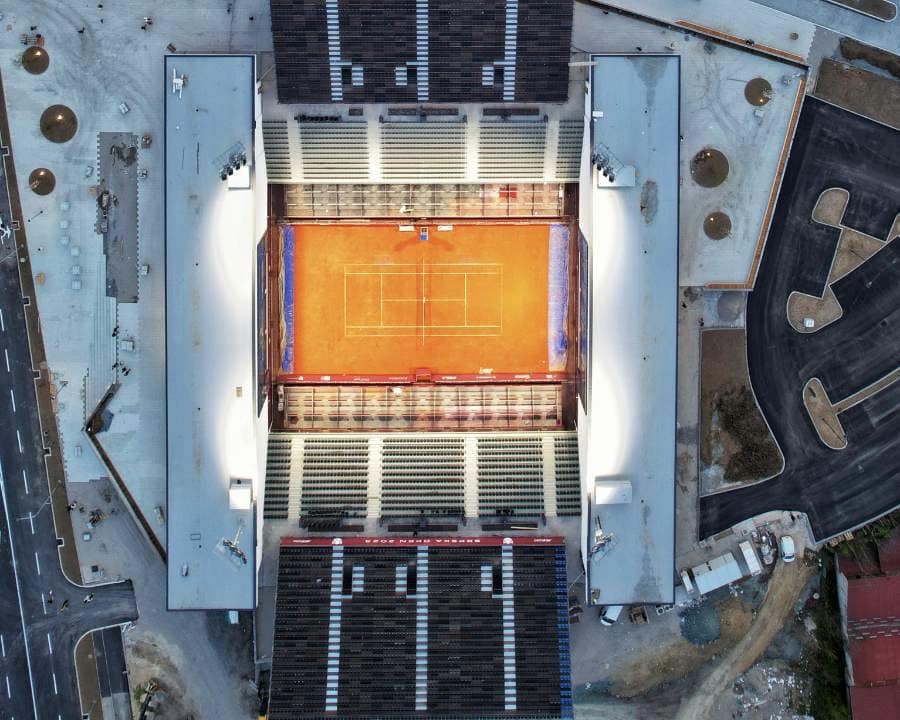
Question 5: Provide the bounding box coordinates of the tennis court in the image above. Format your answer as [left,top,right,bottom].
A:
[273,217,572,384]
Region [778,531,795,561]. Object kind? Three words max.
car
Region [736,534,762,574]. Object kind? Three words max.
shipping container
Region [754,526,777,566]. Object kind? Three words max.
truck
